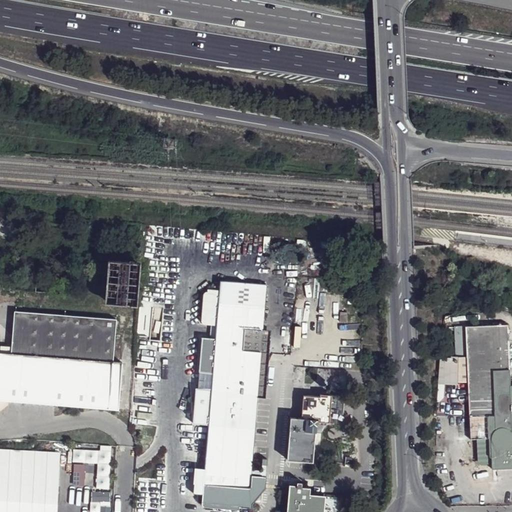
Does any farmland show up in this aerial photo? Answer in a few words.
No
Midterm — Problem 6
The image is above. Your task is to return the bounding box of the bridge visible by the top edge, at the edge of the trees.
[370,0,412,108]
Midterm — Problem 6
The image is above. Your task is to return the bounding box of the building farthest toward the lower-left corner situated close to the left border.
[0,450,60,512]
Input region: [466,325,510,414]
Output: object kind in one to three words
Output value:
building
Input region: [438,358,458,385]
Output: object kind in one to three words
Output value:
building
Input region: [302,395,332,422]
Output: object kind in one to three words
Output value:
house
